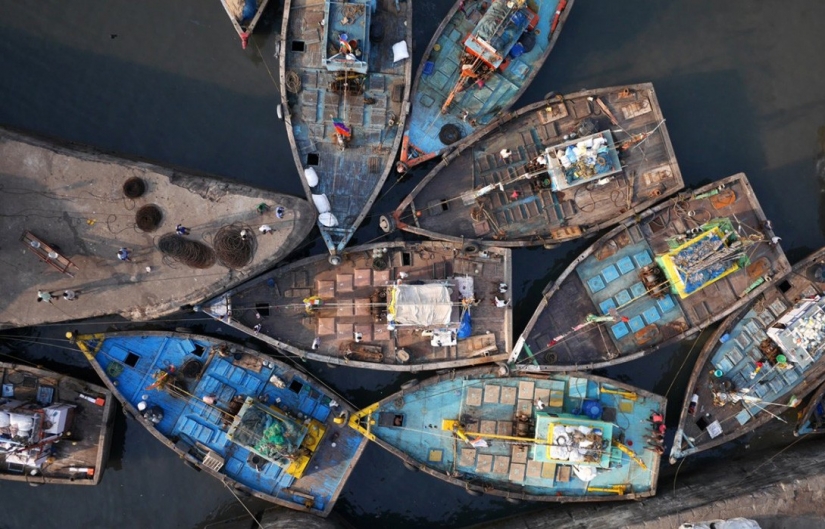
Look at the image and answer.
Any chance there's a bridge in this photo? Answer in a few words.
No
